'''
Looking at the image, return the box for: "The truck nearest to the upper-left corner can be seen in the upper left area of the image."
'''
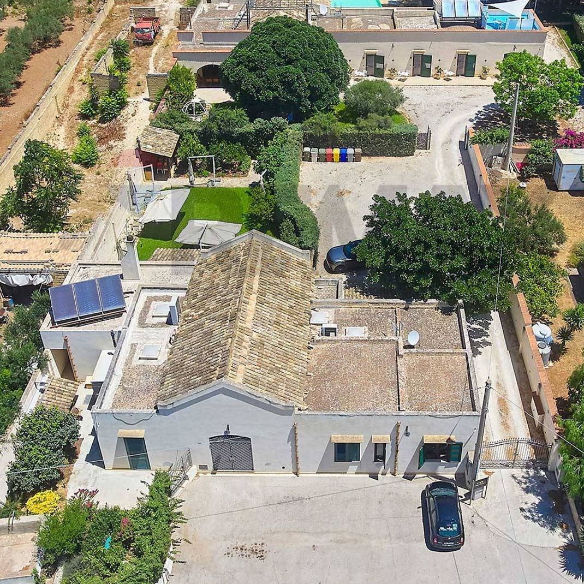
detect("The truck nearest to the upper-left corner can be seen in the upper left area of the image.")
[130,25,158,47]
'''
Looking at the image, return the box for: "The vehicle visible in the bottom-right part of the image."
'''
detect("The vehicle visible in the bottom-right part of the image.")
[420,480,467,553]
